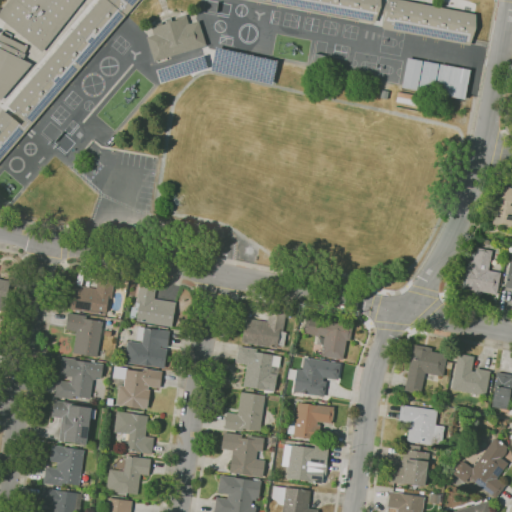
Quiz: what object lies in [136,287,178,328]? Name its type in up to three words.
house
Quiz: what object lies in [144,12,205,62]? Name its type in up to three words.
building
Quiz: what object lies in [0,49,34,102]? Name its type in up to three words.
building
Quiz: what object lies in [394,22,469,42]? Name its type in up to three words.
solar panel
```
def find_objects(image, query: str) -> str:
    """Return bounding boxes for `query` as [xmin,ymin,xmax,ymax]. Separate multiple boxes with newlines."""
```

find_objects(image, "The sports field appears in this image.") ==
[156,69,464,291]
